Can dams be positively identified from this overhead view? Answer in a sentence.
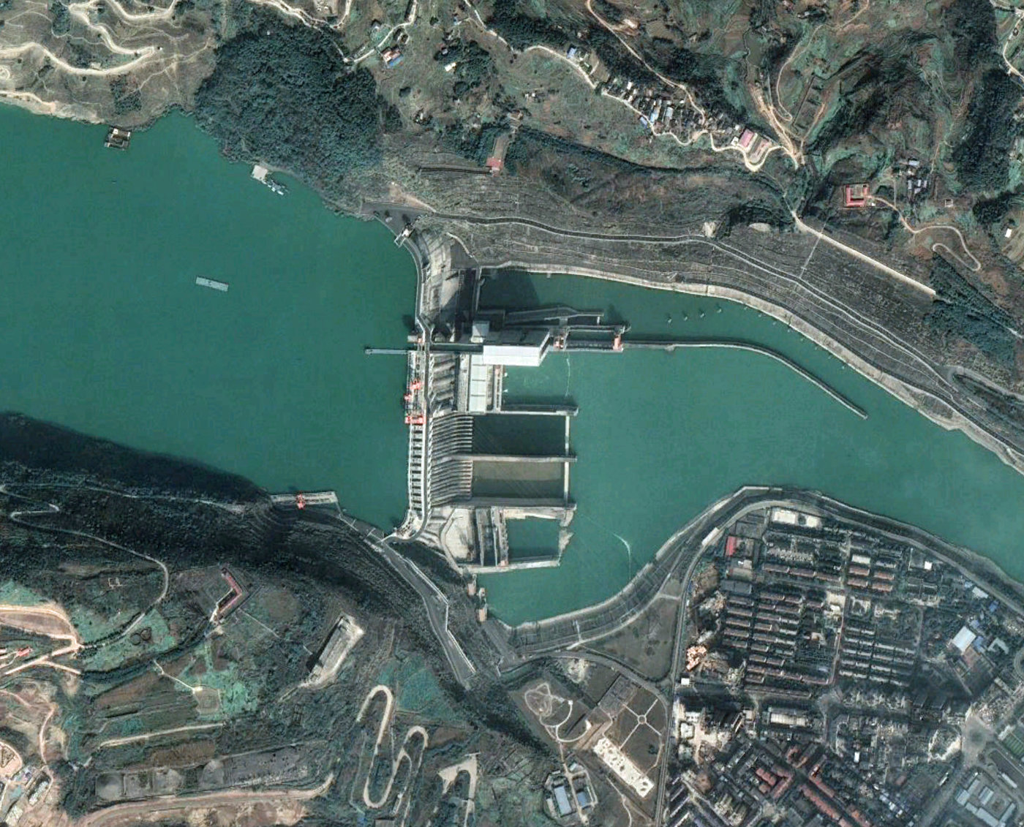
Yes, the photo shows a dam.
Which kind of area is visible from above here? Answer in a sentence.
It's a port.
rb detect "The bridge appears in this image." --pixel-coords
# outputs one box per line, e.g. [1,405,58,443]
[432,334,486,354]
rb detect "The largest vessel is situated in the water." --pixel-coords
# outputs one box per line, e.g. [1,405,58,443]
[196,277,228,291]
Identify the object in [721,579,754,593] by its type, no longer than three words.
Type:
building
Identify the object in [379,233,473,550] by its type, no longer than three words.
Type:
dam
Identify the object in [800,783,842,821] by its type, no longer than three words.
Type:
building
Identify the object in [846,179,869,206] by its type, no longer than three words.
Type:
house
